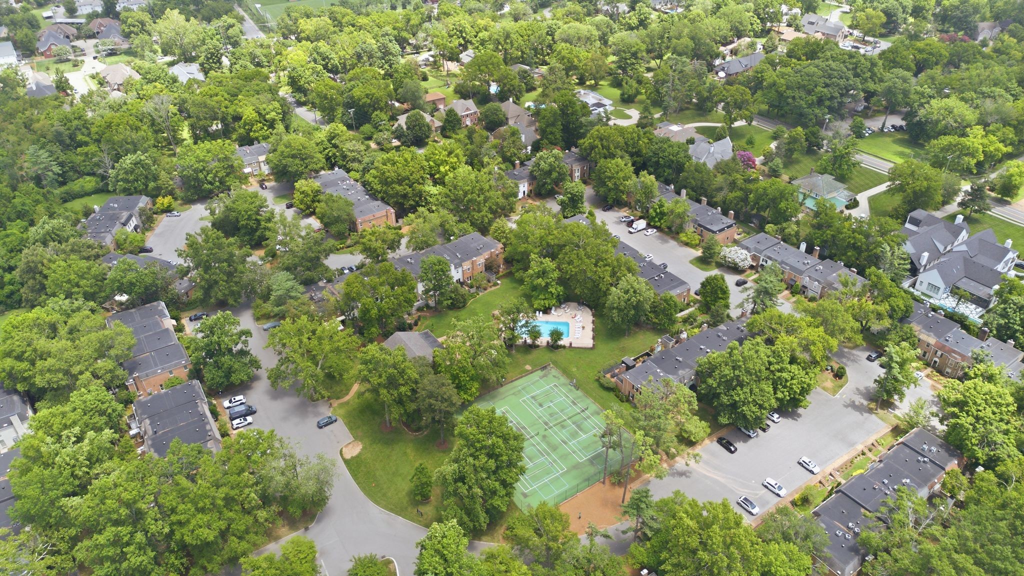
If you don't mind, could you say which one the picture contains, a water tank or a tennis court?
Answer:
tennis court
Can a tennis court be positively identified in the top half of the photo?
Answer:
No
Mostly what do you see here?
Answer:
trees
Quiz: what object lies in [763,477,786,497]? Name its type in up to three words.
car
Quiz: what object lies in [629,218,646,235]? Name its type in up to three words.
vehicle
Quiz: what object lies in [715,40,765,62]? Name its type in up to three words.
house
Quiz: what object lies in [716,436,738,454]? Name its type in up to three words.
car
